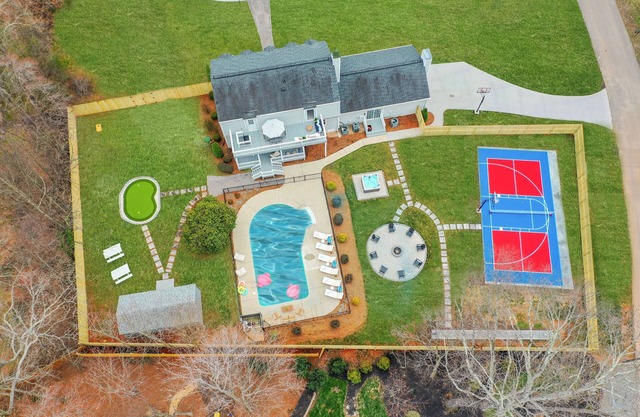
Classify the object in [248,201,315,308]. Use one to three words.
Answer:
swimming pool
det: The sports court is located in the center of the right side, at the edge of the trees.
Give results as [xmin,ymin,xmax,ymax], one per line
[477,148,574,290]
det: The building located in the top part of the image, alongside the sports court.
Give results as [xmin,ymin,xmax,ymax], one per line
[209,40,434,143]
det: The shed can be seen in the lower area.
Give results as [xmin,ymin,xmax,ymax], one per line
[115,284,202,334]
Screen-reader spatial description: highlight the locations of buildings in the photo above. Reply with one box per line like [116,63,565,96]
[115,284,202,334]
[209,40,434,143]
